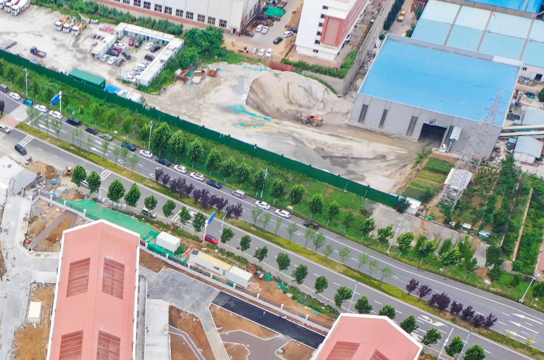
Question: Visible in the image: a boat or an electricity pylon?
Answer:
electricity pylon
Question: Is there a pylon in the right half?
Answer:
Yes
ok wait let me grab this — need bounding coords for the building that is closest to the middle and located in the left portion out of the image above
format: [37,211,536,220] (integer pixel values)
[190,250,233,280]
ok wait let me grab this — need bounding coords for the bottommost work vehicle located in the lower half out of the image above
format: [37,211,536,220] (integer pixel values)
[243,262,266,278]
